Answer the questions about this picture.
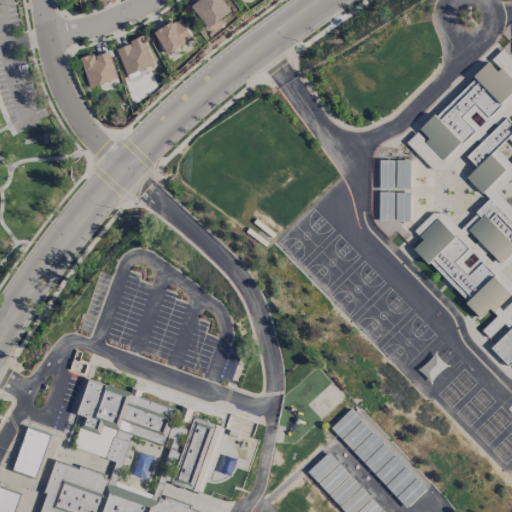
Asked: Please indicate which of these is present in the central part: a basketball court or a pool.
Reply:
basketball court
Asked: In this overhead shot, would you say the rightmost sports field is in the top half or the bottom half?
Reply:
top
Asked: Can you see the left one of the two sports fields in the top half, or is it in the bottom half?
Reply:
top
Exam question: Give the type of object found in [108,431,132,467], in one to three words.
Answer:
building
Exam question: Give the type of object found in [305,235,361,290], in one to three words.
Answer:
basketball court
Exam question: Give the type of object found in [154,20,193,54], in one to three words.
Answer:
house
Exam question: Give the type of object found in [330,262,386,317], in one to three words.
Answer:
basketball court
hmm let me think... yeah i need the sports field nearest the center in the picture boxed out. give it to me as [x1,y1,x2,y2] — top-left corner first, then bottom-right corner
[184,99,342,231]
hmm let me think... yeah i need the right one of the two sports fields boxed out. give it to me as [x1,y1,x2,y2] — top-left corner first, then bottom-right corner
[328,22,442,117]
